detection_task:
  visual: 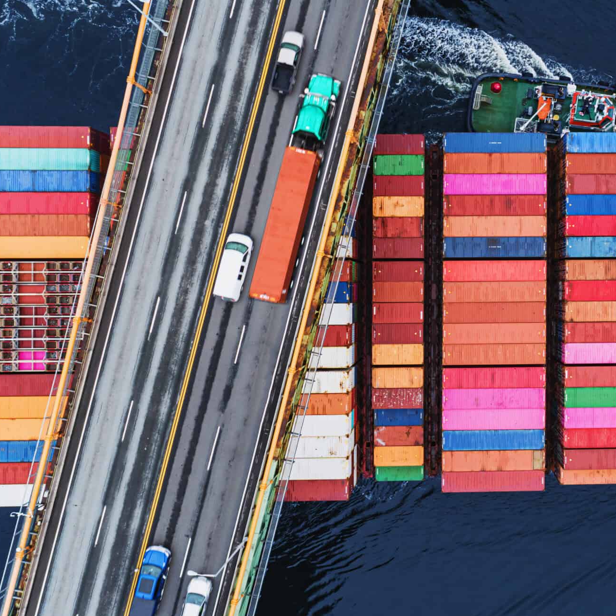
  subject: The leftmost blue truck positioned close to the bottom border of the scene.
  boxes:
[130,543,174,616]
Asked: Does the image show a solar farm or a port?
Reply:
port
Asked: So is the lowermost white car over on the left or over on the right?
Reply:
left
